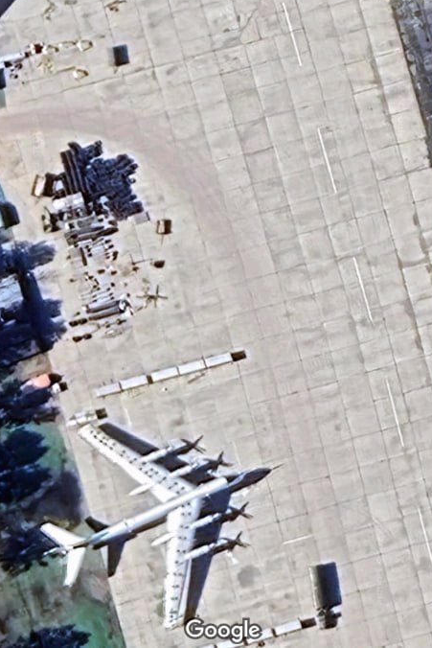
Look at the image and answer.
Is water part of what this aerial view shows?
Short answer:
No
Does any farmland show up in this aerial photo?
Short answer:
No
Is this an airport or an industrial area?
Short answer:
airport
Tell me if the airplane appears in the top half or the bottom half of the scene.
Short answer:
bottom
